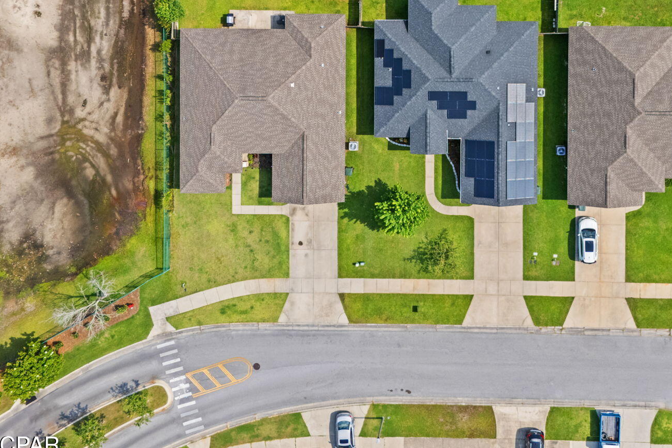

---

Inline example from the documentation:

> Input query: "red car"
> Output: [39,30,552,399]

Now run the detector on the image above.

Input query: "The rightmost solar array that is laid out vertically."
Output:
[507,84,535,198]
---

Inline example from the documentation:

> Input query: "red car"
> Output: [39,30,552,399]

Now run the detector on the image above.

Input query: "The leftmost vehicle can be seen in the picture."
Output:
[335,411,357,448]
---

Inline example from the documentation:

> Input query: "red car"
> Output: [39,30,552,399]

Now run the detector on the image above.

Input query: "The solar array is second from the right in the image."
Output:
[465,140,494,198]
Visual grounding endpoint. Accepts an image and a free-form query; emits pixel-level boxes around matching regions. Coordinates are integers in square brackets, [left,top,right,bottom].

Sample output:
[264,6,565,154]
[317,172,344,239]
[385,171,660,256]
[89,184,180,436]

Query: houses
[374,0,538,206]
[179,13,346,204]
[567,26,672,208]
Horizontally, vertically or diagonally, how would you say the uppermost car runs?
vertically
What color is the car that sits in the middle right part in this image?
white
